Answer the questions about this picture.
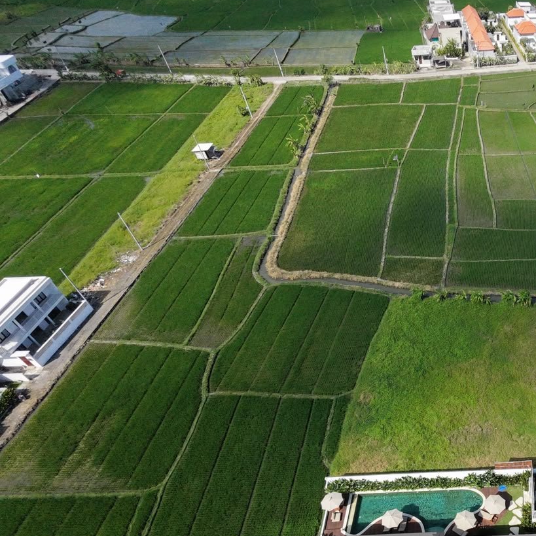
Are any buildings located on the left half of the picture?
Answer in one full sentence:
Yes, on the left half of the picture there is a building.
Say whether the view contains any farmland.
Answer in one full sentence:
Yes, the picture does contain farmland.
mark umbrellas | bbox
[322,492,345,512]
[381,509,403,530]
[483,494,505,515]
[454,511,477,533]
